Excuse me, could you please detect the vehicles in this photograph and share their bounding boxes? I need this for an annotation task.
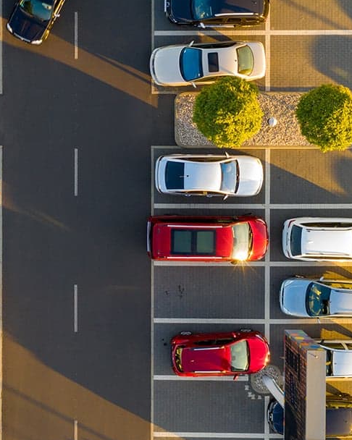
[7,0,66,43]
[282,217,352,262]
[279,276,352,322]
[155,155,263,200]
[147,215,269,265]
[310,336,352,379]
[172,332,269,380]
[164,0,272,26]
[150,41,266,87]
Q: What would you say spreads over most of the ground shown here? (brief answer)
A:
paved ground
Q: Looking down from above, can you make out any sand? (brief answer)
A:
No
